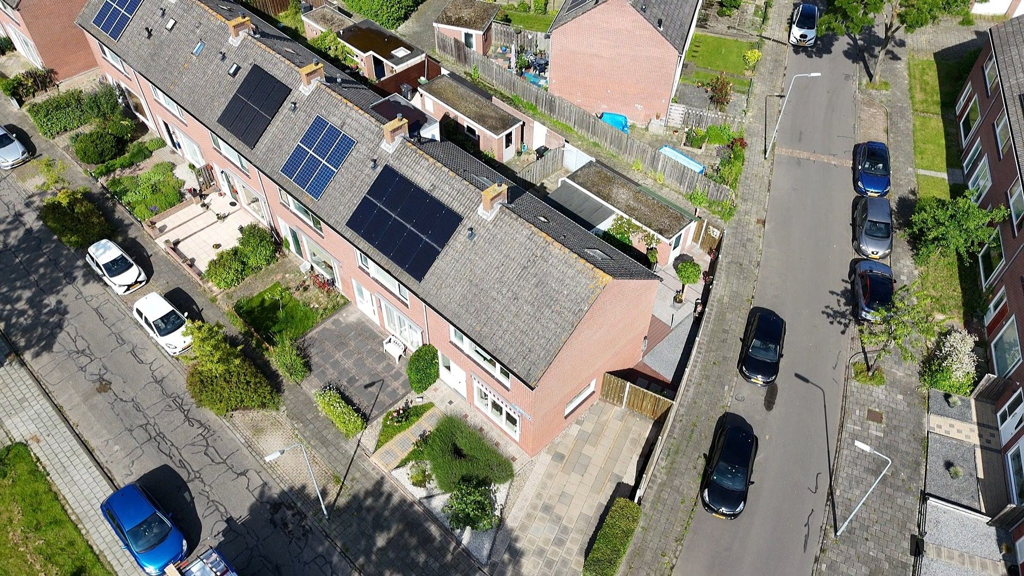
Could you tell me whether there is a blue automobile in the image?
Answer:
Yes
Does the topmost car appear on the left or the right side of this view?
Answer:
right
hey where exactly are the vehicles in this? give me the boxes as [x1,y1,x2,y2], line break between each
[699,418,762,521]
[106,472,184,576]
[852,195,899,262]
[852,140,896,197]
[131,290,195,359]
[0,123,28,172]
[737,307,789,387]
[850,265,899,329]
[787,3,821,47]
[89,236,149,297]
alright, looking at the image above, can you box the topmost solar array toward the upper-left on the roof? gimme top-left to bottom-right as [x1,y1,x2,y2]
[89,0,139,39]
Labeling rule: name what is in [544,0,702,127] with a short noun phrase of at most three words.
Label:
house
